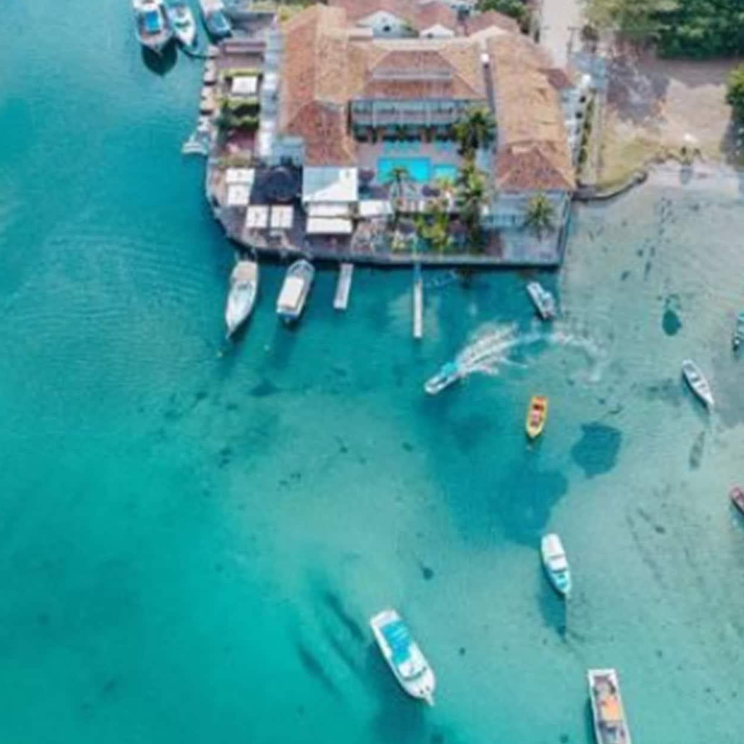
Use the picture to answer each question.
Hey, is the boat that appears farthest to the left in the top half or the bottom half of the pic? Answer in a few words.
top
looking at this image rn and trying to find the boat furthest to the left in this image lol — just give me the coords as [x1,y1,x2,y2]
[129,0,169,59]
